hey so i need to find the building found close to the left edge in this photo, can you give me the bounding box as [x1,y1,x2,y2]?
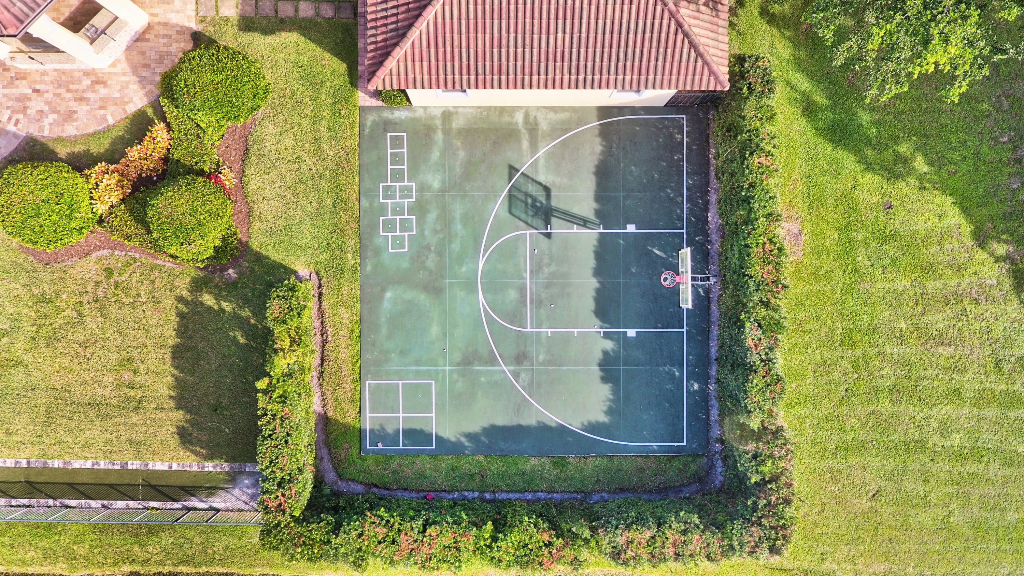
[0,0,147,68]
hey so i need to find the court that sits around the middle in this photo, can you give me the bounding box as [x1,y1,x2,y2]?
[359,106,709,455]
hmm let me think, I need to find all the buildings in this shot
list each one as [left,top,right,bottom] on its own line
[363,0,736,106]
[0,0,147,68]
